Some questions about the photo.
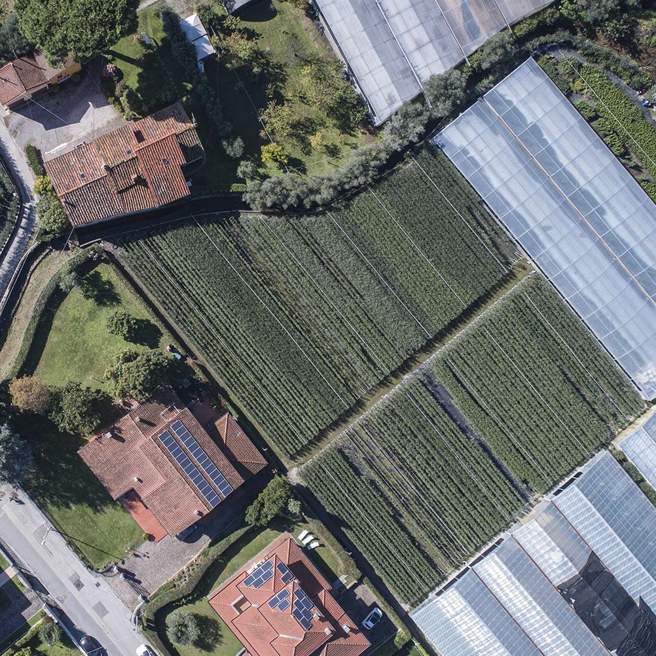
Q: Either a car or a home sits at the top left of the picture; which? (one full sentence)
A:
What appears at the top left of the picture is a home.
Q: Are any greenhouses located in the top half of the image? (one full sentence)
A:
Yes, a greenhouse can be seen in the top half of the image.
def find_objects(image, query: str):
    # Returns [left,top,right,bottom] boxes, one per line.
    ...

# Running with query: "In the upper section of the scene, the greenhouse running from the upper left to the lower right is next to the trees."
[429,57,656,401]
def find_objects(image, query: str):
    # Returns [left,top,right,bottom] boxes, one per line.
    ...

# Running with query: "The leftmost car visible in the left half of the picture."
[77,633,107,656]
